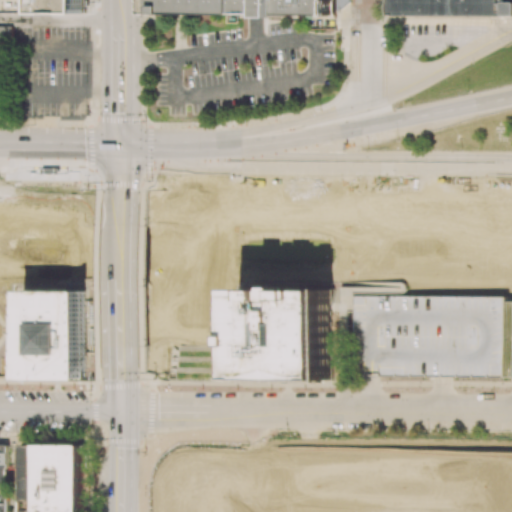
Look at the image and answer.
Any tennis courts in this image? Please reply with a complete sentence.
No, I can see no tennis court in this picture.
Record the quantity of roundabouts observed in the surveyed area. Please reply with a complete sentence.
There are no roundabouts in this view.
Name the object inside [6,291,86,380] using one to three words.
building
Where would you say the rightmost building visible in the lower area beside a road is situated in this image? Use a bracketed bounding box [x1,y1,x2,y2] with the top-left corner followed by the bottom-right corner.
[345,284,512,376]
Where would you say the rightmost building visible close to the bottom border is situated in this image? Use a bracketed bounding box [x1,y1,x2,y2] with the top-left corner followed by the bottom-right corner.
[16,444,82,512]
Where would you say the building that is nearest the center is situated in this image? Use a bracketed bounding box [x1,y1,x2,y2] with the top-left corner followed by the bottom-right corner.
[208,287,340,382]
